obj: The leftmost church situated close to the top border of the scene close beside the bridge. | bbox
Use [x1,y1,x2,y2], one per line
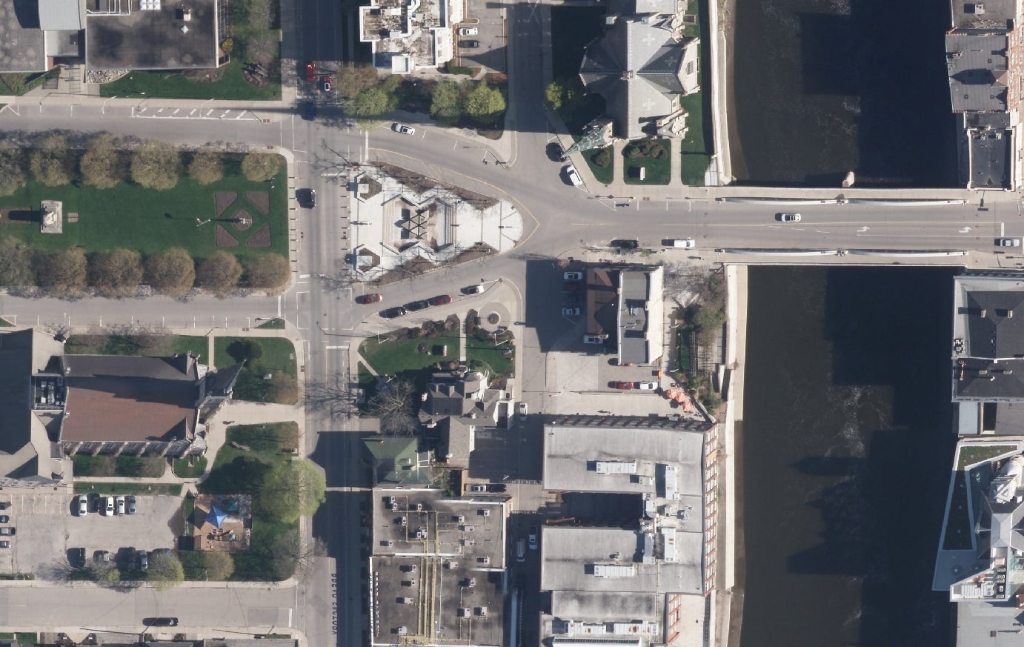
[564,13,699,153]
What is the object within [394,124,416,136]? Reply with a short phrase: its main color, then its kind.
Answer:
white vehicle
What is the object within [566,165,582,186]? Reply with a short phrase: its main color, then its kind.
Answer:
white car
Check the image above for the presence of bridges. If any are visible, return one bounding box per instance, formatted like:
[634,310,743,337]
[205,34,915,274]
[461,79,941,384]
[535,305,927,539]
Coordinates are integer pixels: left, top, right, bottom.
[720,169,1024,266]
